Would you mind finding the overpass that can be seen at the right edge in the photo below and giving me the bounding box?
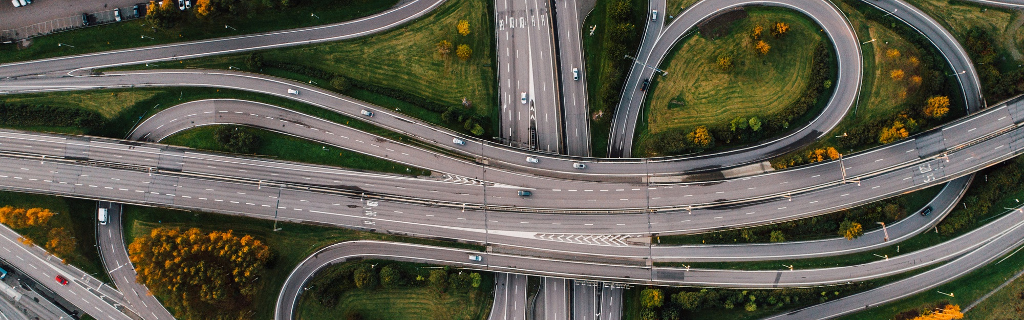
[889,99,1019,197]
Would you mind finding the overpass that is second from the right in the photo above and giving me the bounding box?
[483,139,652,285]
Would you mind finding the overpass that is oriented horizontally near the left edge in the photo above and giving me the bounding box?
[29,132,196,212]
